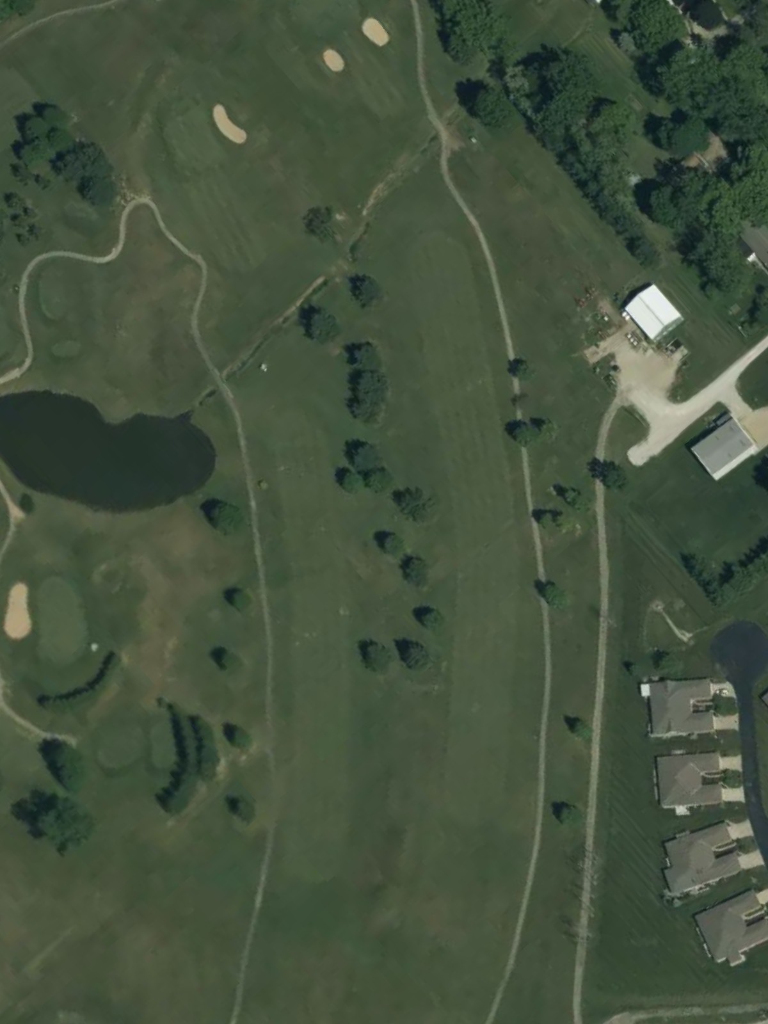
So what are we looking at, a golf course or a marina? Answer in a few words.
golf course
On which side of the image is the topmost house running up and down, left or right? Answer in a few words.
right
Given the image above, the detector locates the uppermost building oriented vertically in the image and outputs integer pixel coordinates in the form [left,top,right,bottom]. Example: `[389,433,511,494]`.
[740,216,768,276]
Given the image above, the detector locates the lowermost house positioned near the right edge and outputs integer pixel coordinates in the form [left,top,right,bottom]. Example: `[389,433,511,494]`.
[694,885,768,962]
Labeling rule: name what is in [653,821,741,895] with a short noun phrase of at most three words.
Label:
house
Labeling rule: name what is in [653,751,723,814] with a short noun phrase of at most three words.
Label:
house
